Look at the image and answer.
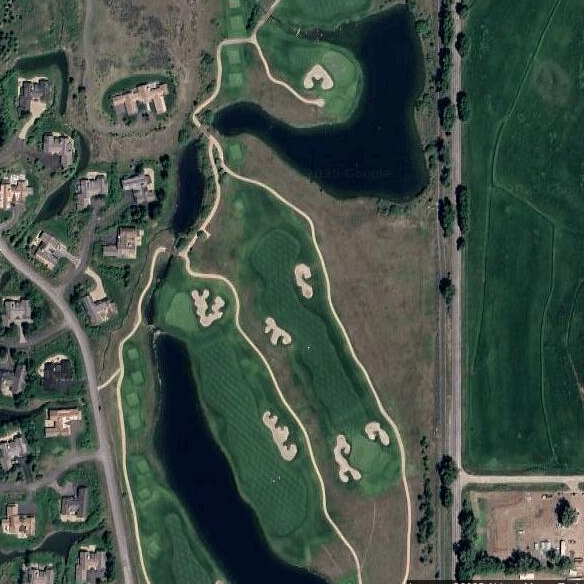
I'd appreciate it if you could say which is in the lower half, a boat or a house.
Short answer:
house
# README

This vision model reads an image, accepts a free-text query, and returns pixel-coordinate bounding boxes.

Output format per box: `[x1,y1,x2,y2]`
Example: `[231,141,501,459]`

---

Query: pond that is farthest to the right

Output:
[172,136,205,232]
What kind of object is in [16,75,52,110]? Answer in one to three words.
house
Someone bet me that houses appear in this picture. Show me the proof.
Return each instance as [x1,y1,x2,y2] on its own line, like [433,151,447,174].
[60,486,89,522]
[103,227,145,260]
[0,363,29,397]
[2,294,34,328]
[121,165,156,204]
[16,75,52,110]
[43,406,82,438]
[0,170,33,209]
[78,295,118,328]
[75,544,106,584]
[2,502,37,539]
[111,81,170,115]
[31,229,69,271]
[44,131,76,169]
[76,171,108,209]
[0,428,29,474]
[35,352,74,390]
